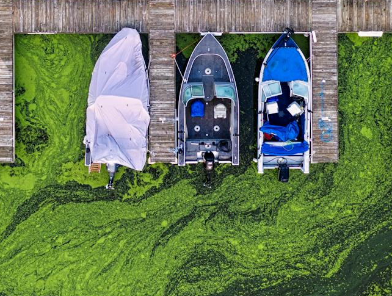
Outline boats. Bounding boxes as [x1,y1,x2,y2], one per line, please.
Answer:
[178,33,240,191]
[255,26,312,189]
[84,27,150,193]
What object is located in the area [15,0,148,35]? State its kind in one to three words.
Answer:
pier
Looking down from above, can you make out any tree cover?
No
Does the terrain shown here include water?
Yes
